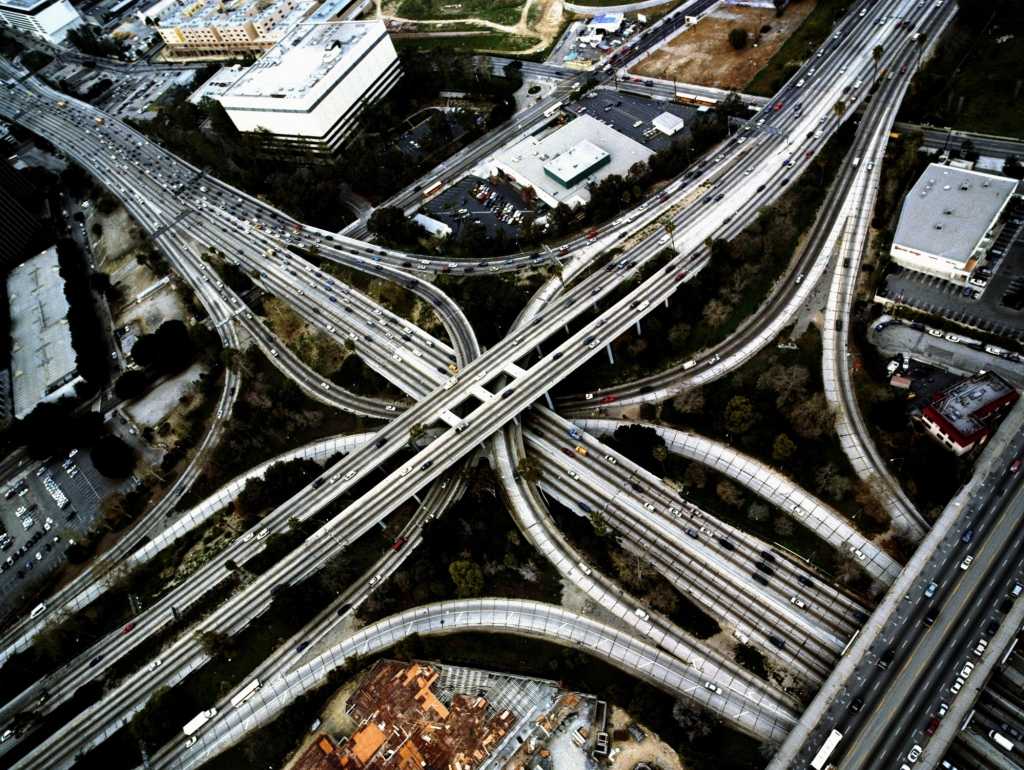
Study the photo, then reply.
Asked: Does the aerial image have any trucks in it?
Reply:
Yes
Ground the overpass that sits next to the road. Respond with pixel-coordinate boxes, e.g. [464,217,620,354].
[766,394,1024,770]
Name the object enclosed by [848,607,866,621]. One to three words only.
car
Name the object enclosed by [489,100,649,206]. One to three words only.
building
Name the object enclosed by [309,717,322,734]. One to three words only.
vehicle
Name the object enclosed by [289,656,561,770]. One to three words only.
building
